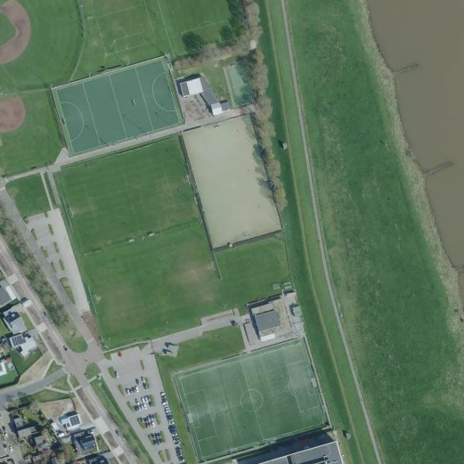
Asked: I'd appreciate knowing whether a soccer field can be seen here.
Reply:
Yes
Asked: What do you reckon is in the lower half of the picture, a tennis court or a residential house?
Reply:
residential house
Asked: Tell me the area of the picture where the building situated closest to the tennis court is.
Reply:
top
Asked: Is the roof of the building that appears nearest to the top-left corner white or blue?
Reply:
white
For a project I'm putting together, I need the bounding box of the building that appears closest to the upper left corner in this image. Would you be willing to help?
[180,76,209,98]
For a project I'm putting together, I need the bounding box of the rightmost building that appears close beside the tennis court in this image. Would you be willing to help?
[200,89,230,116]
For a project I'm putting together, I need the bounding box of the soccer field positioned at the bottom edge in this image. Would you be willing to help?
[174,337,329,463]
